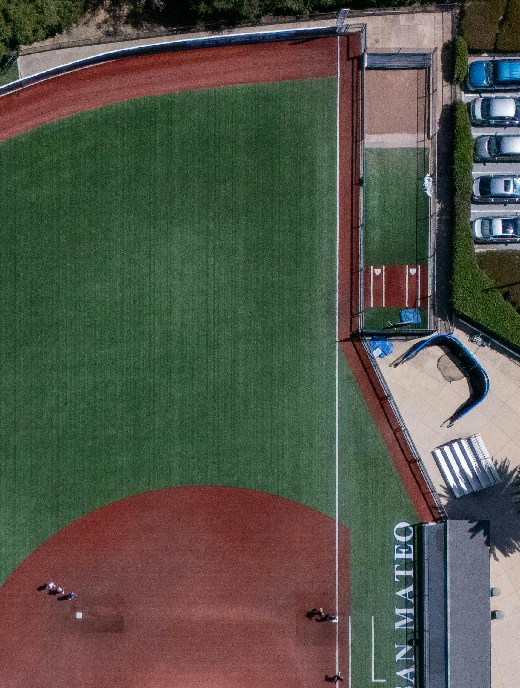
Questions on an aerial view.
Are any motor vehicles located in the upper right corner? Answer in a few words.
Yes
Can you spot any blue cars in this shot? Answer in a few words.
Yes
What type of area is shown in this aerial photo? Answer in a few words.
sports ground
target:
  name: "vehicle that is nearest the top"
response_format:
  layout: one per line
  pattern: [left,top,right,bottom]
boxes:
[467,54,520,92]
